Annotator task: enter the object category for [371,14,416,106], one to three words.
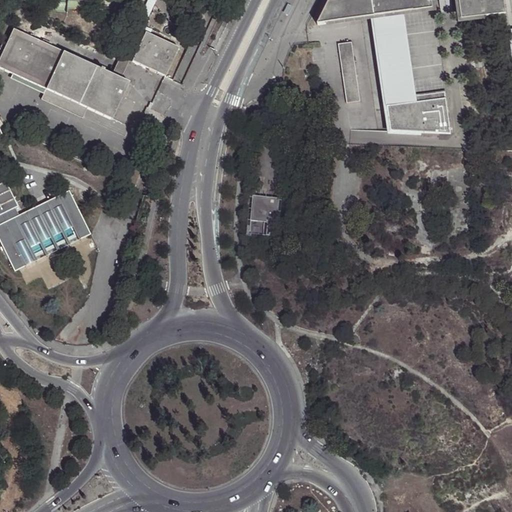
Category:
building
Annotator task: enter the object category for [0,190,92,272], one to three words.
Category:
building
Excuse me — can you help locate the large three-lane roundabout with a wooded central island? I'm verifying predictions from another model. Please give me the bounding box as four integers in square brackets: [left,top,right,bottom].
[95,314,304,512]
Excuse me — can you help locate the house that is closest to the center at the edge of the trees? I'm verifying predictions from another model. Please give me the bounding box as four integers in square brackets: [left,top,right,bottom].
[246,195,280,235]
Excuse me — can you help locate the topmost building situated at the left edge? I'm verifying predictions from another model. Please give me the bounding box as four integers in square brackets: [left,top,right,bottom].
[0,28,184,136]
